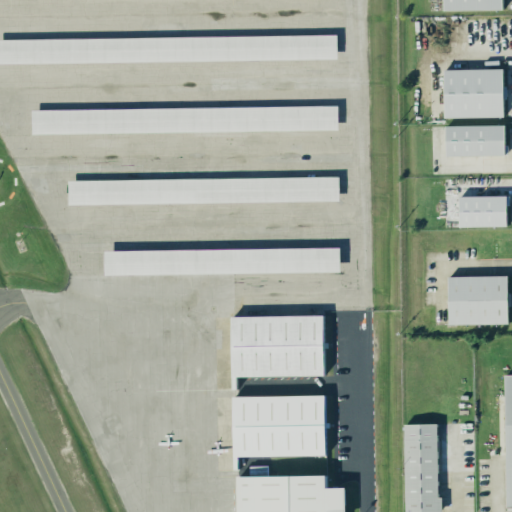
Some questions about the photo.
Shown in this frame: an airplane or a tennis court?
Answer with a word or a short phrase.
airplane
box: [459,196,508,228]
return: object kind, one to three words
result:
building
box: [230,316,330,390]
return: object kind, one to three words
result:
hangar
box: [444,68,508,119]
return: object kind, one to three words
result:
building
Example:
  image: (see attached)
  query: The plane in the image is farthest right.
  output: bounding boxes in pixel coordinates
[208,441,230,457]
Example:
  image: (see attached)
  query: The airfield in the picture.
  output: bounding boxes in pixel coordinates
[0,0,373,512]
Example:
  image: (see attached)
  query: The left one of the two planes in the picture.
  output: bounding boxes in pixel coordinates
[158,432,180,448]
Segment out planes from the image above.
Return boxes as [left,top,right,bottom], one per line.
[158,432,180,448]
[208,441,230,457]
